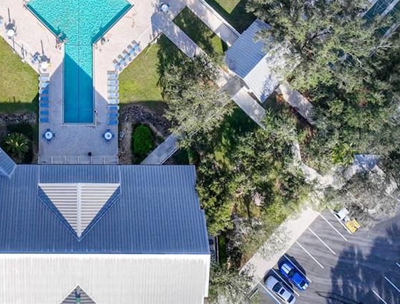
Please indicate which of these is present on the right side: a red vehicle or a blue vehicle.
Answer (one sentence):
There is a blue vehicle on the right side.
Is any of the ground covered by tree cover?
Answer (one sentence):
Yes, some tree cover is visible.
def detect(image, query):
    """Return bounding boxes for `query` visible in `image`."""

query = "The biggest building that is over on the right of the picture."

[223,18,295,102]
